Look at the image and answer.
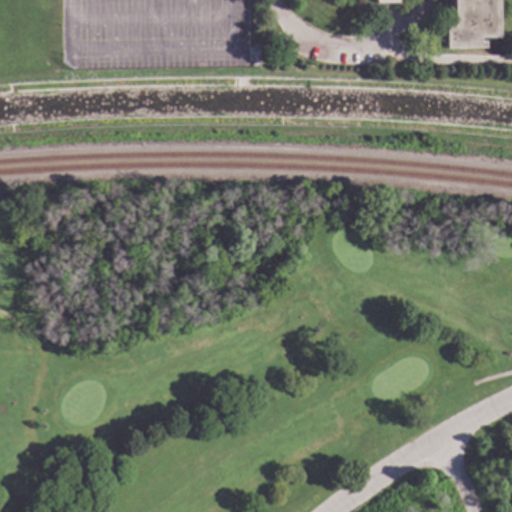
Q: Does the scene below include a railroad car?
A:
No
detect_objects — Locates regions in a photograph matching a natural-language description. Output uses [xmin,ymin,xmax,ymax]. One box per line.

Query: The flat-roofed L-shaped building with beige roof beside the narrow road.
[450,0,505,48]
